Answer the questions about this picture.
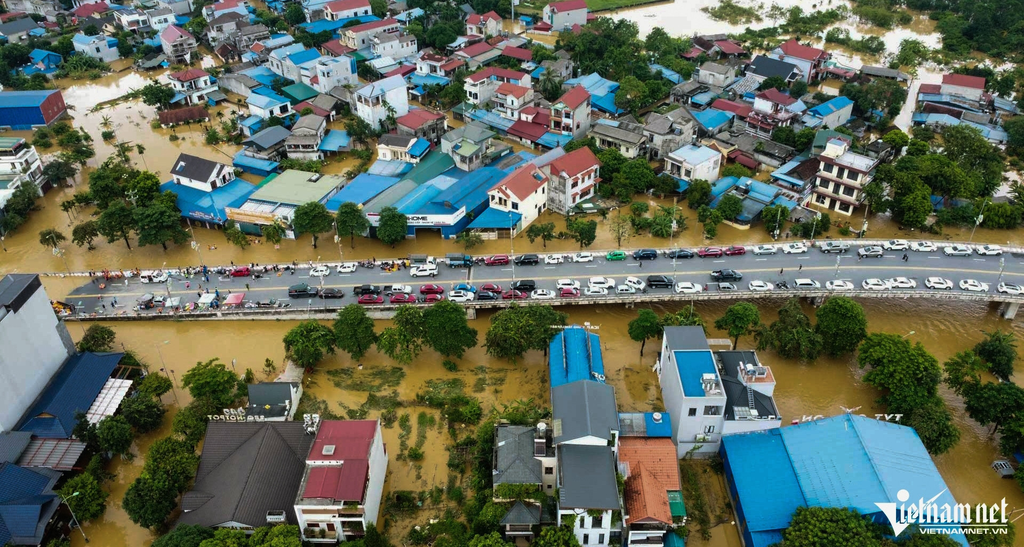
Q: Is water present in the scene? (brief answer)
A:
Yes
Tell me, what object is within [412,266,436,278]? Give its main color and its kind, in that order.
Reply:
white vehicle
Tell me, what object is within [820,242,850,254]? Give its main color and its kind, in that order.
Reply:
gray vehicle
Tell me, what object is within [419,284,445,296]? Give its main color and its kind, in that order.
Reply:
red vehicle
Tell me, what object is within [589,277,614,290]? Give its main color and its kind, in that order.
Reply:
white vehicle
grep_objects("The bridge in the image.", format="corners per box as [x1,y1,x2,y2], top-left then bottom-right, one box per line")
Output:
[50,243,1024,319]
